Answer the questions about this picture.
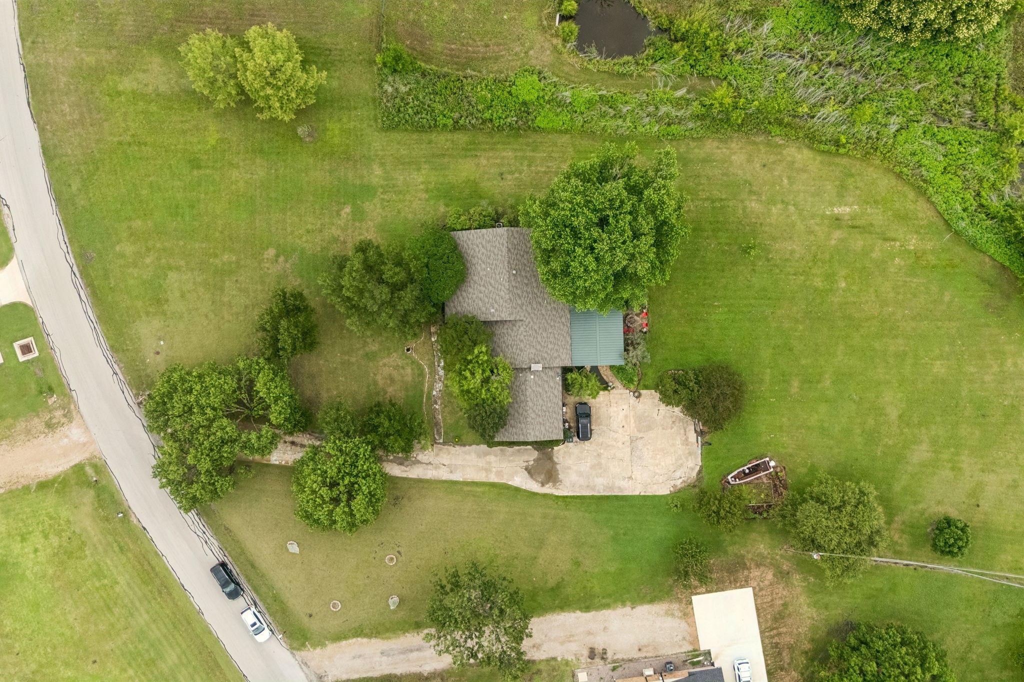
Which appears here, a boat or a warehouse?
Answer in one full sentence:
Of the two, only a boat appears.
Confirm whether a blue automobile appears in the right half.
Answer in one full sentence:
No, there's no blue automobile to be seen in the right half.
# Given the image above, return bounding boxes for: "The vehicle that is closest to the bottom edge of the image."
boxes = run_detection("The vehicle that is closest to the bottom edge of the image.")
[733,653,754,682]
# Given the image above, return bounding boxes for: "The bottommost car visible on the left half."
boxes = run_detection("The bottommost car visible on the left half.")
[240,603,270,642]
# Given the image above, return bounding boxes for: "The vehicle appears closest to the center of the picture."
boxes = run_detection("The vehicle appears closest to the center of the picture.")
[575,401,593,440]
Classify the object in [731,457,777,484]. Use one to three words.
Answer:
boat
